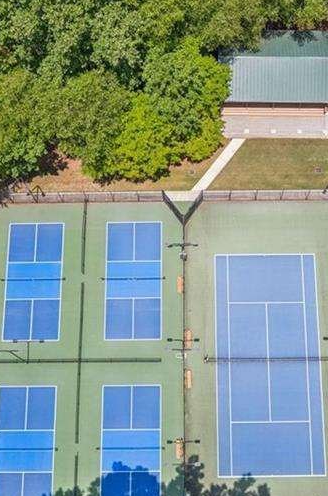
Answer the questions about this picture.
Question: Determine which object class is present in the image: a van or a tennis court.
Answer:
tennis court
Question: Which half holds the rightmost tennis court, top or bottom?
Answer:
bottom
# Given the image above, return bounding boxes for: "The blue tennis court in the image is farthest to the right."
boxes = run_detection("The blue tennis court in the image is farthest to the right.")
[216,254,326,477]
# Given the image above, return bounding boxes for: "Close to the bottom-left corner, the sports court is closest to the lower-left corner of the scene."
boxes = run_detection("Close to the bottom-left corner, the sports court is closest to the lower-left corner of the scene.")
[0,386,56,496]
